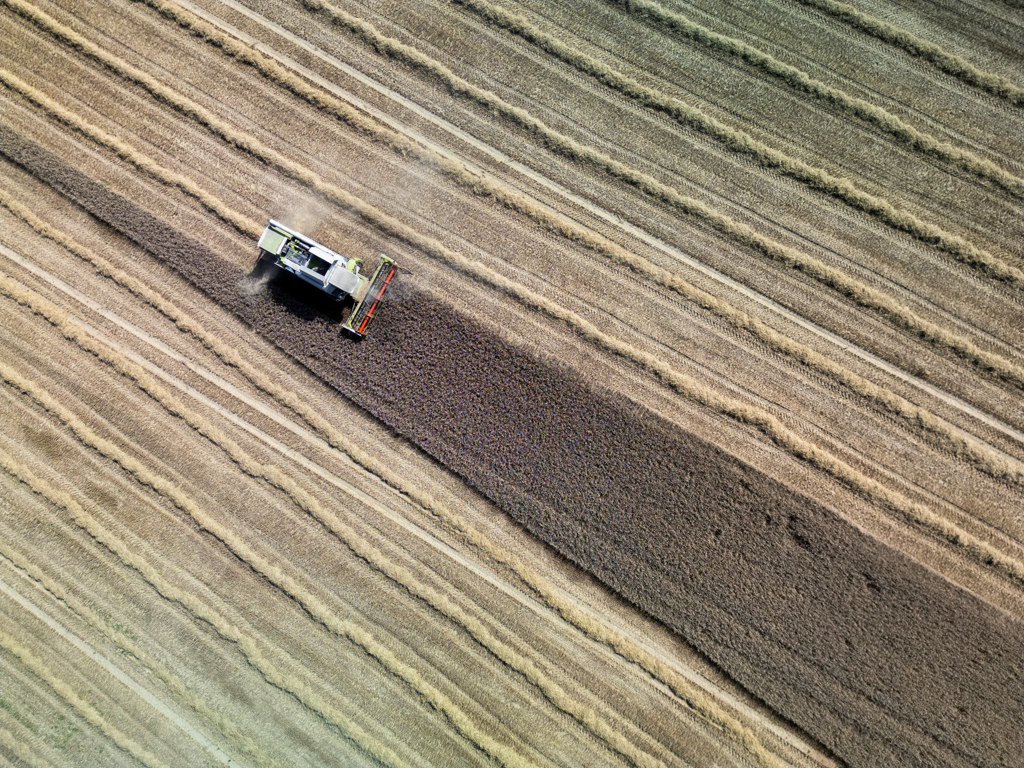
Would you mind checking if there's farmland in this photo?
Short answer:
Yes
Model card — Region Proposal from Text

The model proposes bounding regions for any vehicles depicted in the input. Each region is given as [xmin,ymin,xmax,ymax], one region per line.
[258,219,413,337]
